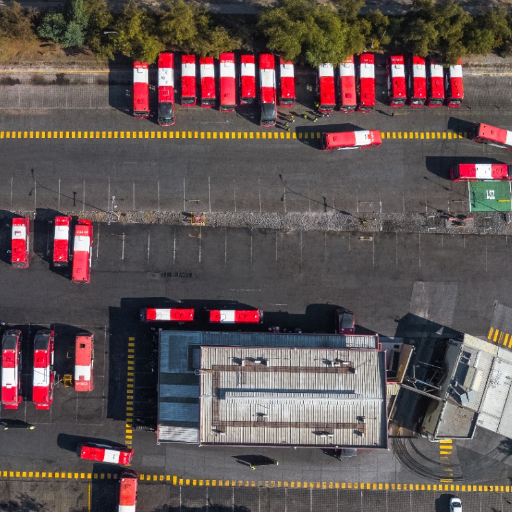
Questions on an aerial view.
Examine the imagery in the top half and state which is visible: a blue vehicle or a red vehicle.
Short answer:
red vehicle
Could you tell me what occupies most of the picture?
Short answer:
paved ground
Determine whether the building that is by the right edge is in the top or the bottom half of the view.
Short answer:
bottom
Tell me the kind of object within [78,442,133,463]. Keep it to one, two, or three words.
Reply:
bus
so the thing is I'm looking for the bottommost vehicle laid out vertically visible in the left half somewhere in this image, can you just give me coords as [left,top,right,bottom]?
[121,470,139,512]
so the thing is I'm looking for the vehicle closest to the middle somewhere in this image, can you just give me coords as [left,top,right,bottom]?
[209,308,265,325]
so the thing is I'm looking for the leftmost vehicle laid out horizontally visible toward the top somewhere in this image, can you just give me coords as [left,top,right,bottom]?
[319,131,381,150]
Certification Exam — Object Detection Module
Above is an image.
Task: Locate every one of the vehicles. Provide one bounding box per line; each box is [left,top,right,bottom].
[387,55,408,107]
[209,308,265,325]
[33,331,53,409]
[72,224,92,287]
[443,61,465,107]
[180,54,197,107]
[278,56,296,107]
[408,56,429,107]
[356,53,377,114]
[11,217,30,269]
[319,131,381,150]
[200,56,217,108]
[258,53,279,127]
[426,60,445,108]
[146,308,201,323]
[336,52,358,114]
[316,57,336,114]
[449,496,463,512]
[453,164,512,181]
[53,216,71,270]
[78,442,133,463]
[157,52,176,125]
[468,121,512,150]
[121,470,139,512]
[1,331,22,409]
[76,331,94,391]
[240,54,257,107]
[133,59,152,119]
[218,53,238,114]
